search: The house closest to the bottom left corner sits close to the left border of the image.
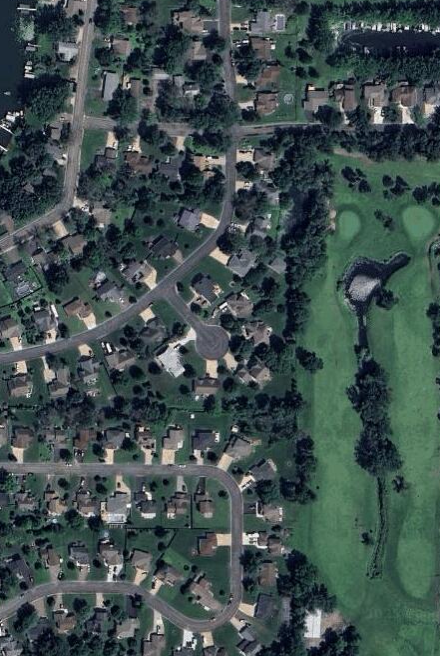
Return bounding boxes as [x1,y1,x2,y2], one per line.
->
[0,639,26,656]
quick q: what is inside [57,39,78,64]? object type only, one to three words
house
